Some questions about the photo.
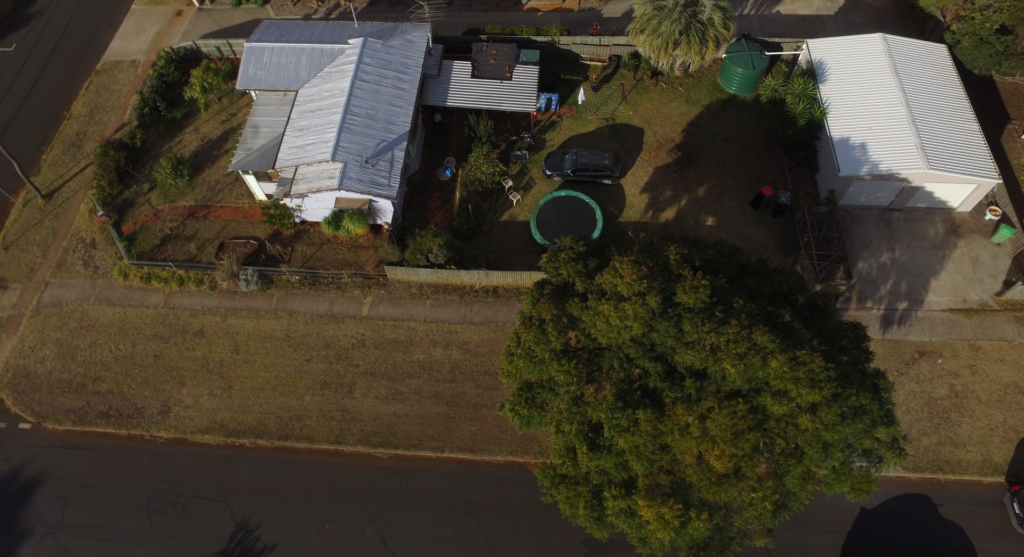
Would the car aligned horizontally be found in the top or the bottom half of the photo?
top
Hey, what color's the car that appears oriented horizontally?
black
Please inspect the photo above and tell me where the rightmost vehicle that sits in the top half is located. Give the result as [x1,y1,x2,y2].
[542,147,624,189]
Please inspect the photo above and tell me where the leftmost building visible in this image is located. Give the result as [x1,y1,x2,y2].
[227,13,432,227]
